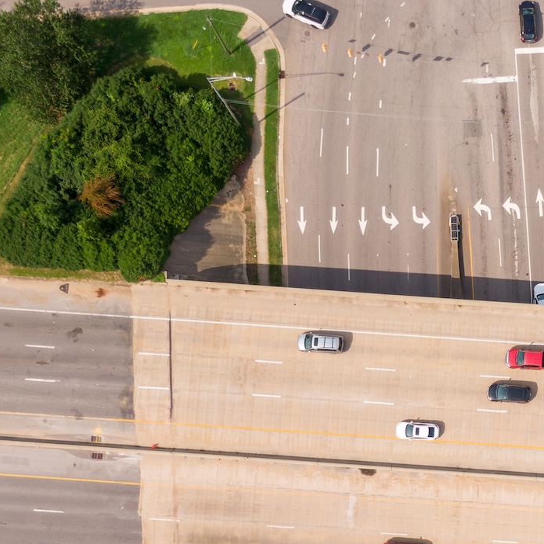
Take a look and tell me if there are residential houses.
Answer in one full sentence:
No, there is no residential house in the image.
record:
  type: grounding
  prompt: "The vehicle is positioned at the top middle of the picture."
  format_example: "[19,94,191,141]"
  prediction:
[286,0,330,27]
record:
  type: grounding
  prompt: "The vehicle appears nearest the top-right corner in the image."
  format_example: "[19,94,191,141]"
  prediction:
[518,0,537,43]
